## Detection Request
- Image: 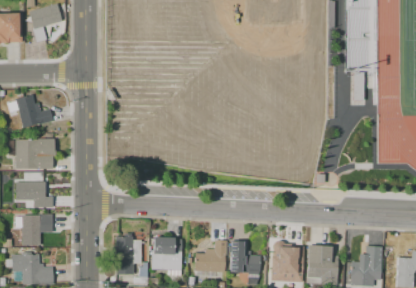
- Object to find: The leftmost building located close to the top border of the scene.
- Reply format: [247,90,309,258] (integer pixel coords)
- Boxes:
[0,12,22,43]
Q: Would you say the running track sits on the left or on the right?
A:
right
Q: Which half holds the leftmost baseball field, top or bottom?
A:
top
